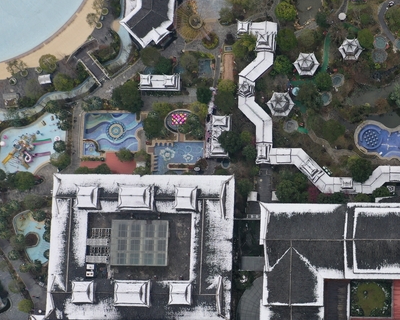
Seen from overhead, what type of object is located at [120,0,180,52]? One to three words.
building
